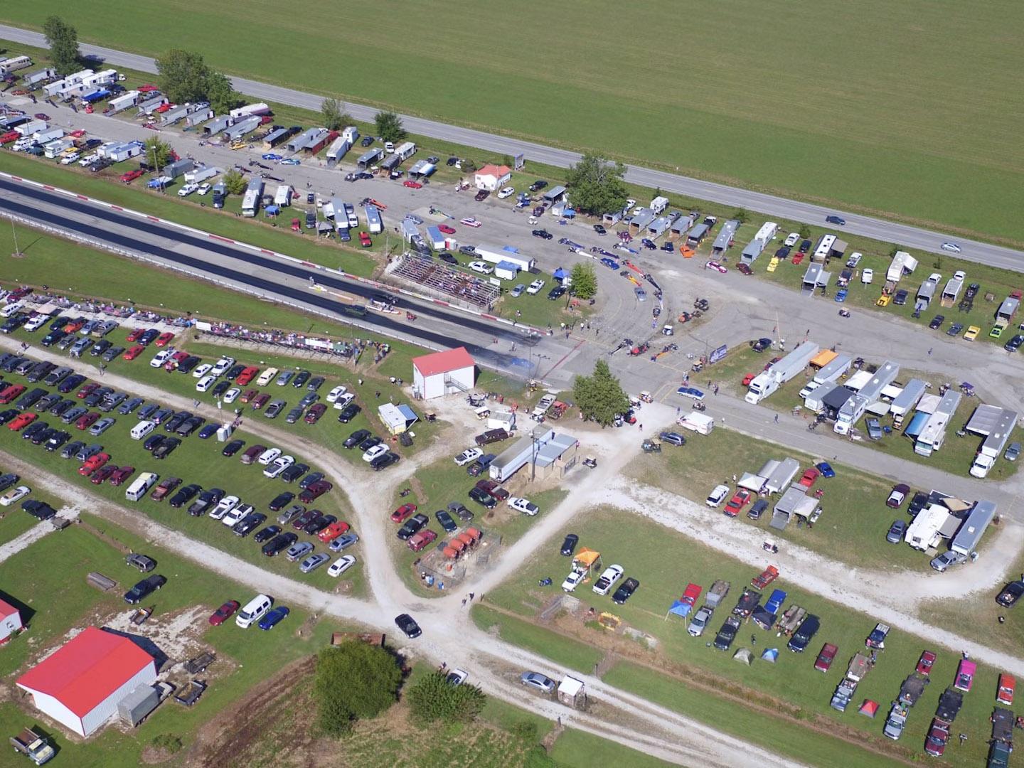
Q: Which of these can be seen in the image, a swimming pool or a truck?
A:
truck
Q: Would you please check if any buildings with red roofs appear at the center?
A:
Yes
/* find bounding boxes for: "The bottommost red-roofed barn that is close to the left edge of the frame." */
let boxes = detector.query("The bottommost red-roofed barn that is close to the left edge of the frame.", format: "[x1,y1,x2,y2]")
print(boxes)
[8,619,158,737]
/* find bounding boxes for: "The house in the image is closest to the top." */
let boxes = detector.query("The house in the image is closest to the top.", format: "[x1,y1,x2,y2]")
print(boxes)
[474,165,515,190]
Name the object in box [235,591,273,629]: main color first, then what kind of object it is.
white van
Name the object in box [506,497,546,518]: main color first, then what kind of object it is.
white truck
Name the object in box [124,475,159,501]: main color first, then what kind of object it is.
white vehicle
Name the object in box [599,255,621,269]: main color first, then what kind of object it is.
blue car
